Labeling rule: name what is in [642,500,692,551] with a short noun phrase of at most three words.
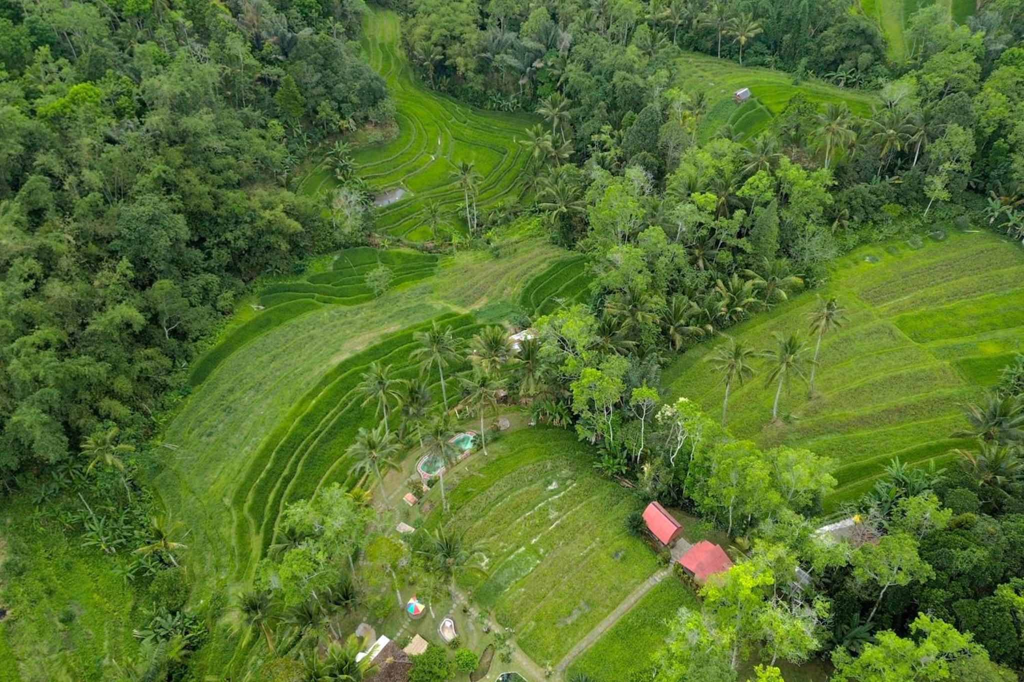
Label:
shed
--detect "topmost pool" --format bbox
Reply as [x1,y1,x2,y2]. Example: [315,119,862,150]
[418,432,475,476]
